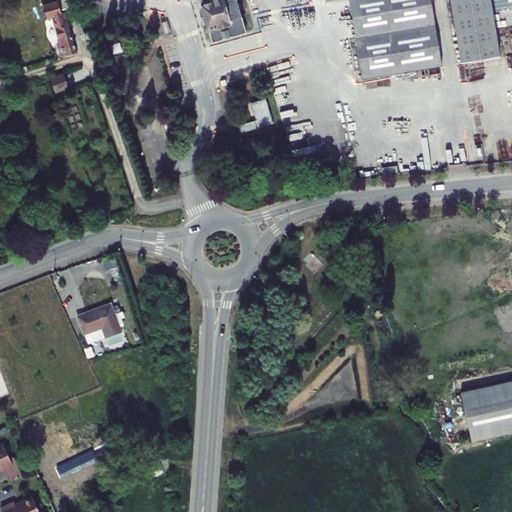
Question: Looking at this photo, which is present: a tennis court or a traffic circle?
traffic circle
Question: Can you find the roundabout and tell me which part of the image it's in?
center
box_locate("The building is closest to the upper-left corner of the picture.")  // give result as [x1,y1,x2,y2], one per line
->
[41,0,76,58]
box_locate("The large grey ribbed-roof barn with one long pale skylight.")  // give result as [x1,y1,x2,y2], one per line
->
[462,380,512,444]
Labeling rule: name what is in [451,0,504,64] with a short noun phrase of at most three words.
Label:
building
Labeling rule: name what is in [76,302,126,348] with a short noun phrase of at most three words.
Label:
house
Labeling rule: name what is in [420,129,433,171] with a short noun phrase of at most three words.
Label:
vehicle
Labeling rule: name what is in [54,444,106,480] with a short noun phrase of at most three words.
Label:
shed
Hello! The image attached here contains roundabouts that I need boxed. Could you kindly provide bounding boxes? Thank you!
[152,201,288,325]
